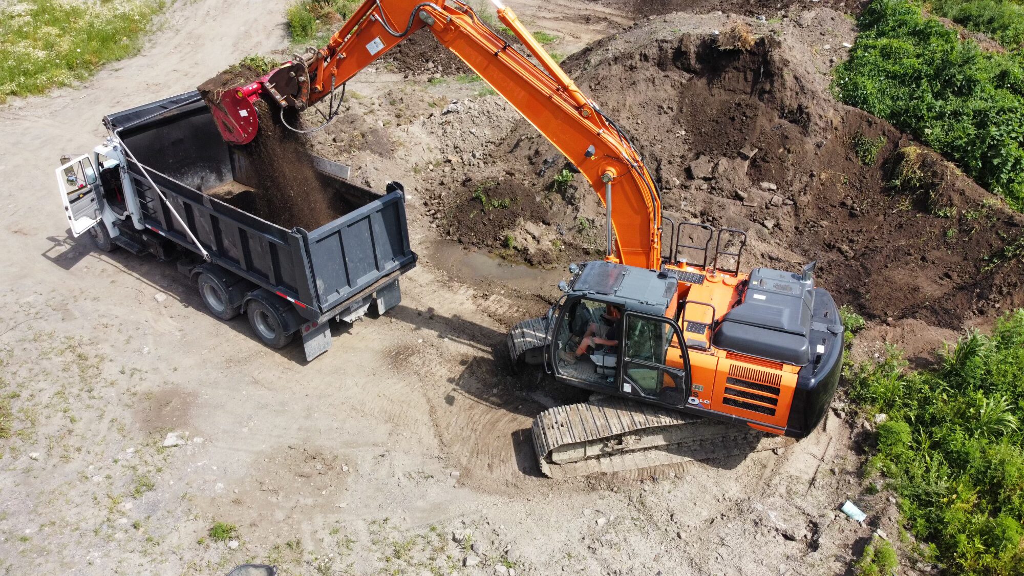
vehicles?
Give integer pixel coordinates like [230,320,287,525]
[55,88,419,366]
[191,0,847,482]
